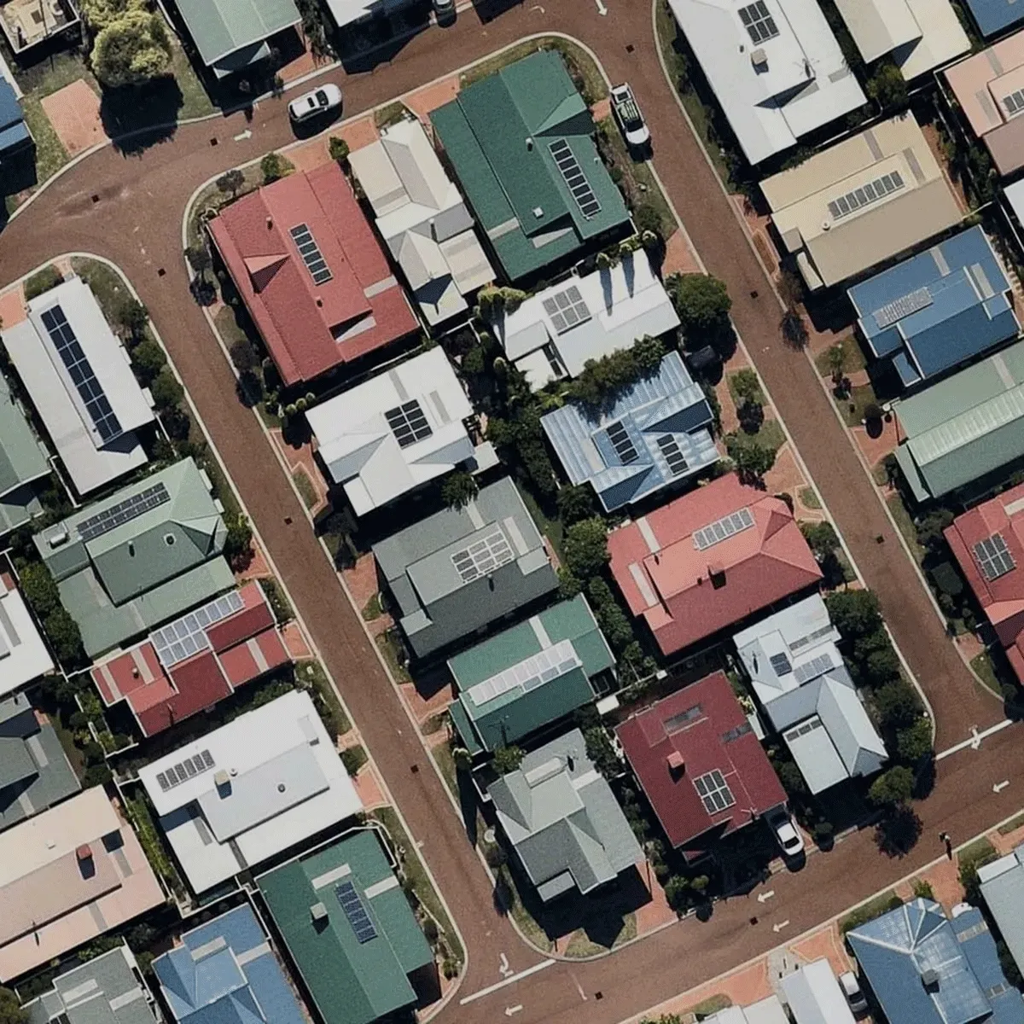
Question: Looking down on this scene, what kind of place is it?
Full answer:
This looks like a residential area.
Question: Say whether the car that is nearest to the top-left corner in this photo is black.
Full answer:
No, the car that is nearest to the top-left corner is white.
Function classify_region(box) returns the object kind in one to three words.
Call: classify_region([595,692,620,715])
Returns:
shed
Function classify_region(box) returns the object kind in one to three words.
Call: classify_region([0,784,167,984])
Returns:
house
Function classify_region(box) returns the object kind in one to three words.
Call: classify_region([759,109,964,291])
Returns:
house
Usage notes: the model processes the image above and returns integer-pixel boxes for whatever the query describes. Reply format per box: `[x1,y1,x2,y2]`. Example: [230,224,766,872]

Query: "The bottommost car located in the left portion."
[289,84,340,121]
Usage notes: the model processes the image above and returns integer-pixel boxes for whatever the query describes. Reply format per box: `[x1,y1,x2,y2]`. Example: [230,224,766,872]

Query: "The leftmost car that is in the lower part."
[765,803,804,857]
